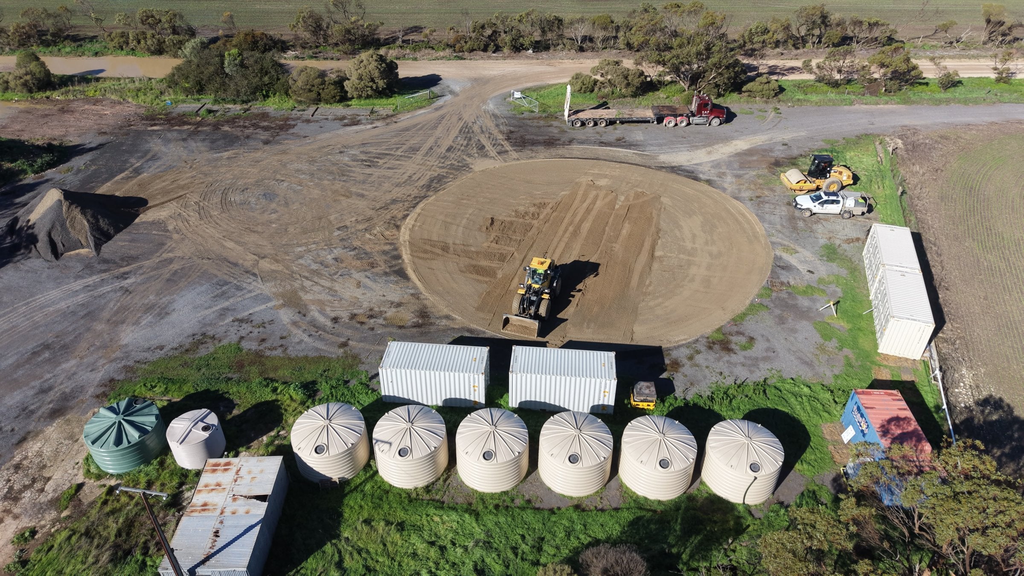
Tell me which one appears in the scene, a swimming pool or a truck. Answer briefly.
truck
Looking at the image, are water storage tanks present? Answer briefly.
Yes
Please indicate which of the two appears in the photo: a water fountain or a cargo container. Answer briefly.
cargo container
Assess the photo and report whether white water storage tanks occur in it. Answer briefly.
Yes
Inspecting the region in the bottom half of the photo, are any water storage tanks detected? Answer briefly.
Yes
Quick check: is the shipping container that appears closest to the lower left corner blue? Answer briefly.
No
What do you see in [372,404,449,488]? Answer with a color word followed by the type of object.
white water tank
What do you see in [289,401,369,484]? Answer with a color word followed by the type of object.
white water tank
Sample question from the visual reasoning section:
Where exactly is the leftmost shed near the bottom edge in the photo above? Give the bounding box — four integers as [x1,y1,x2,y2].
[157,448,288,576]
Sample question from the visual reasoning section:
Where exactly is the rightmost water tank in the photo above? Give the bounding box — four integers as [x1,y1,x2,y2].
[702,418,786,508]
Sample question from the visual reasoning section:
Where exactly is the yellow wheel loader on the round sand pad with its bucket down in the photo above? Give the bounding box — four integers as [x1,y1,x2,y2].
[504,249,566,339]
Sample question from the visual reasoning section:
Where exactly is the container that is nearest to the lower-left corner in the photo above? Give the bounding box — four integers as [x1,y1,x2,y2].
[378,341,490,408]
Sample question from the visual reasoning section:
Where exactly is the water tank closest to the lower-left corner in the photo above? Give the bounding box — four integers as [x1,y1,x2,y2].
[81,398,170,478]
